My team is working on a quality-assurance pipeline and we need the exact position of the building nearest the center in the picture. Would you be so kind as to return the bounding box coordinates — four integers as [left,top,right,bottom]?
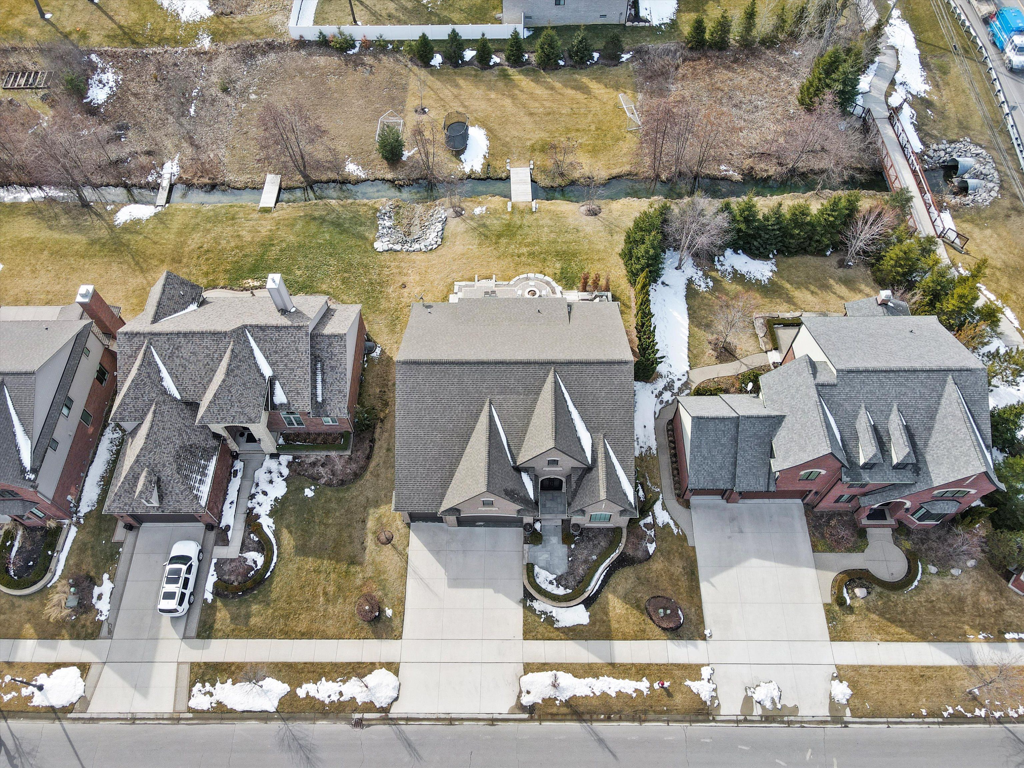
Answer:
[392,298,639,540]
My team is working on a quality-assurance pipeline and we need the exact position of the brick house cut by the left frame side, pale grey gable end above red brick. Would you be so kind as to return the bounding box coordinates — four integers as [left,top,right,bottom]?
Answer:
[0,286,129,523]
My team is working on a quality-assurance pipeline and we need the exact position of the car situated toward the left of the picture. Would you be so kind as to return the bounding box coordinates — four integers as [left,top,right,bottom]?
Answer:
[154,543,201,618]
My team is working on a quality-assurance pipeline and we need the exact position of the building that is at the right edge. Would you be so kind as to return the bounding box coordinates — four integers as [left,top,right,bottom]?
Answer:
[673,291,1006,530]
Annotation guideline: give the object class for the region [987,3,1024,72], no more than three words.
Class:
truck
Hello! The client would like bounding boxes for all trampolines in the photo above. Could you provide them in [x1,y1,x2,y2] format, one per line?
[443,110,472,156]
